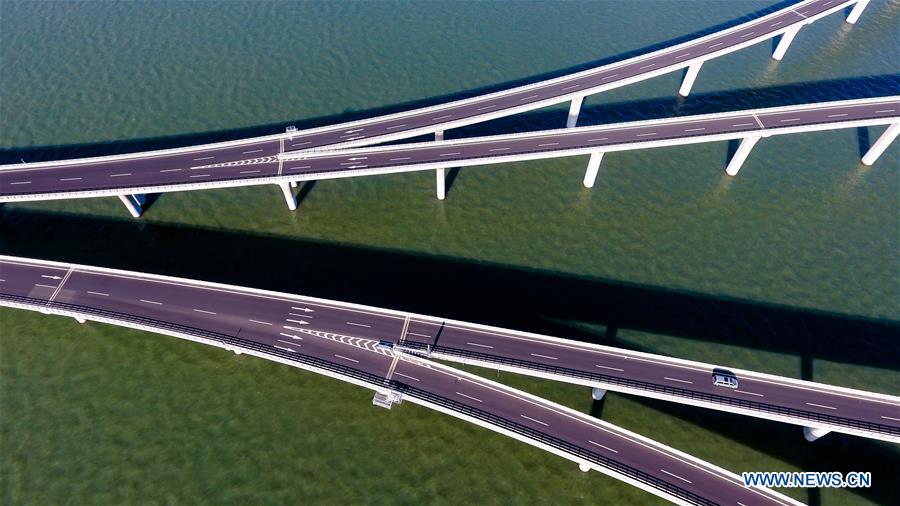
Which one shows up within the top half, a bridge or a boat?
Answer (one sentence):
The feature located within the top half is a bridge.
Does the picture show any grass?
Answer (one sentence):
No, no grass is visible.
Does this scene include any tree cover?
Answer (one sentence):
No, tree cover can't be seen anywhere here.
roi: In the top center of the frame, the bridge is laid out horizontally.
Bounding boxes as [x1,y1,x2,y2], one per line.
[0,0,900,217]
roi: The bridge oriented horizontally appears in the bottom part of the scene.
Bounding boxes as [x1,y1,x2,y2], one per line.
[0,256,900,506]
